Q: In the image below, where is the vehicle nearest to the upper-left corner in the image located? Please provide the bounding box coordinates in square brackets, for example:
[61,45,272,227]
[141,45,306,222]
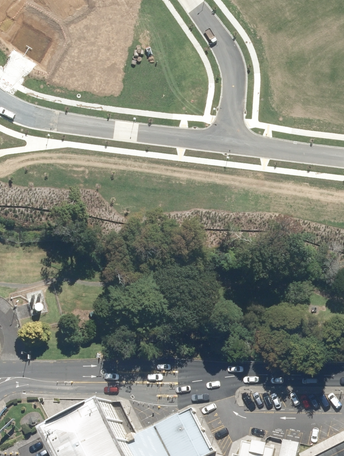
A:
[0,107,15,119]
